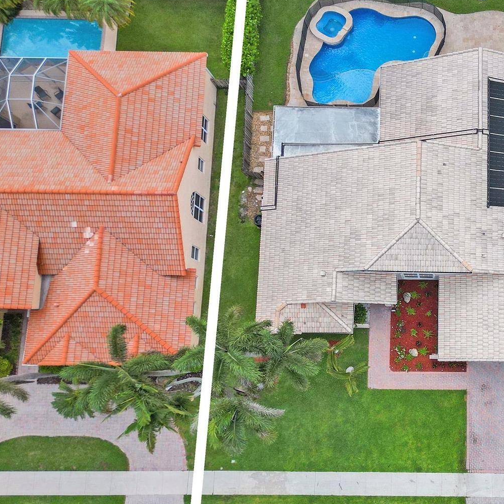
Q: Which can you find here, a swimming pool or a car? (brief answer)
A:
swimming pool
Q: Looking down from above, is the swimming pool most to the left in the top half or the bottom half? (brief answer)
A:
top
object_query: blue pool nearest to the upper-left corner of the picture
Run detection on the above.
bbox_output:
[0,14,105,89]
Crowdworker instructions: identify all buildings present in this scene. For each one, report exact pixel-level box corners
[255,46,504,363]
[0,48,218,367]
